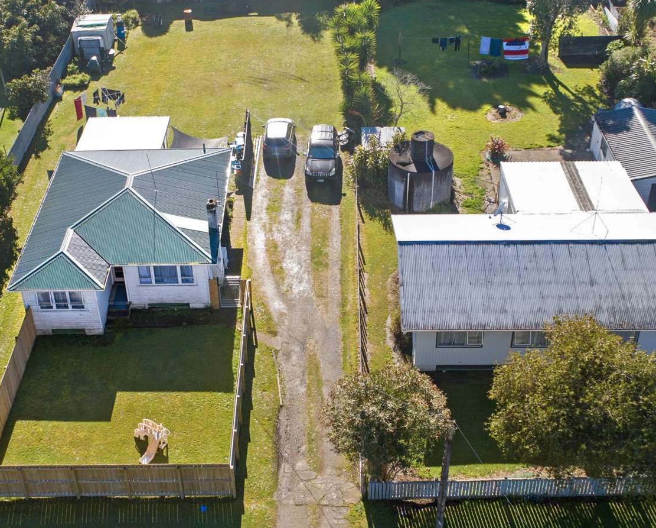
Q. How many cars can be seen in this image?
2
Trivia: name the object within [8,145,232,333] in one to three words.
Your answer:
building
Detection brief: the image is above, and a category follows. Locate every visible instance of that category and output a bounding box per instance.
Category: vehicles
[262,116,296,159]
[301,123,339,183]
